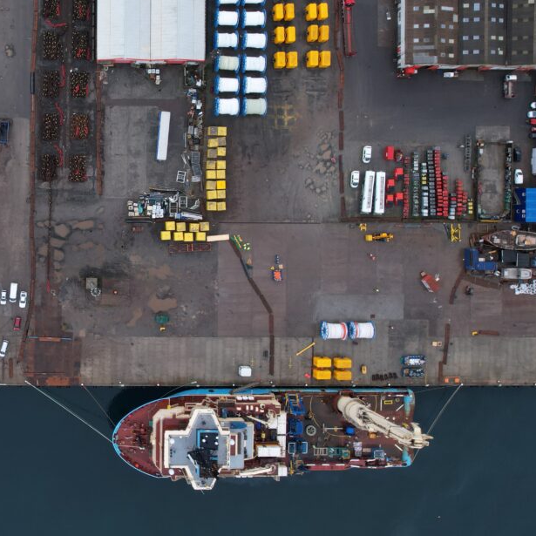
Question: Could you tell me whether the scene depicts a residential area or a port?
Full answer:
What you see here is a port.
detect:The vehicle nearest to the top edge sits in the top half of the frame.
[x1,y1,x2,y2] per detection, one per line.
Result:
[342,0,354,56]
